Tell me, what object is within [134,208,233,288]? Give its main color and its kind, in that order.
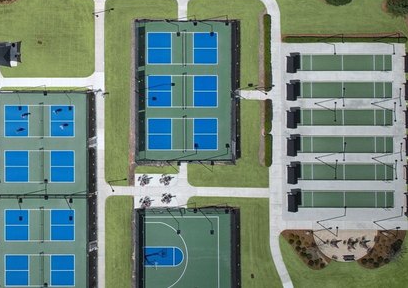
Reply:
green basketball court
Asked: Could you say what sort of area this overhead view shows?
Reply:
sports ground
